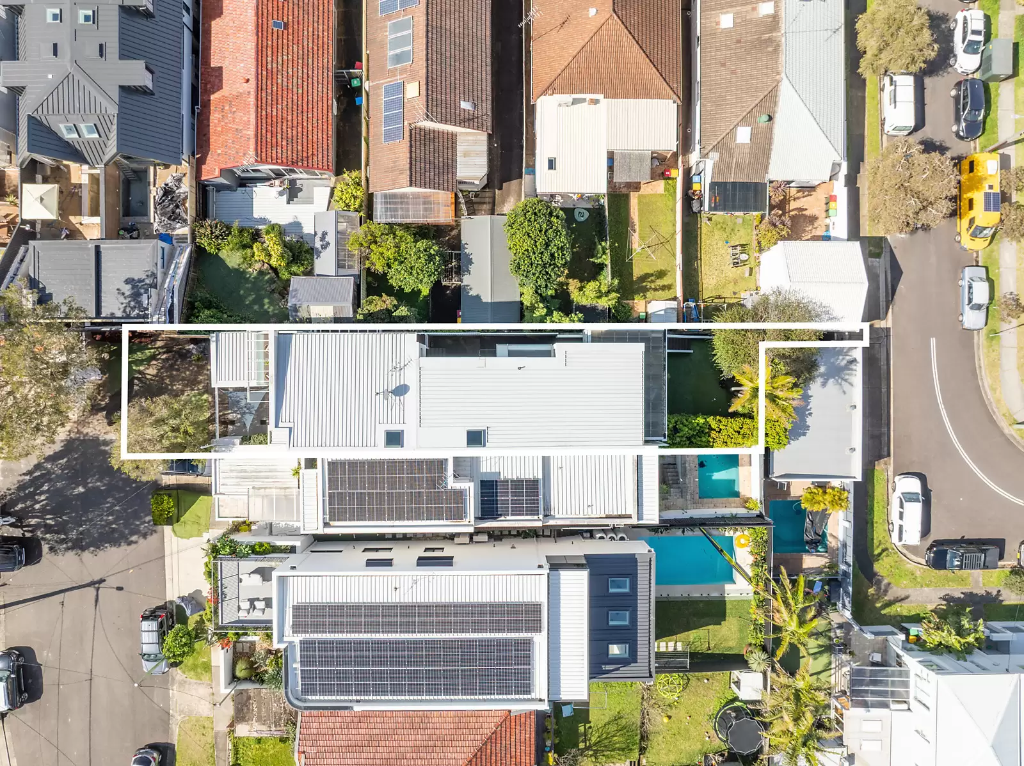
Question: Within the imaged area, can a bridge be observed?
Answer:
No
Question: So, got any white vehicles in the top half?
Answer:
Yes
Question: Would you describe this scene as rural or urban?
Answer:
urban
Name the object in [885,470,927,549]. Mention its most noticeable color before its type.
white car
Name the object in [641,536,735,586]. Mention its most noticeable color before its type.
blue swimming pool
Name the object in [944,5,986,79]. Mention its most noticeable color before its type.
white car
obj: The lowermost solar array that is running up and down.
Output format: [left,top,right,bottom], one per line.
[381,80,403,142]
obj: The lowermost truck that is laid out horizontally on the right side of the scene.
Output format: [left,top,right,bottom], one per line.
[923,537,1003,574]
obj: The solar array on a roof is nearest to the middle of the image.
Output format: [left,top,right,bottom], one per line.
[479,480,540,517]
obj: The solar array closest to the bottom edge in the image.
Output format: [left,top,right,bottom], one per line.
[298,641,535,698]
